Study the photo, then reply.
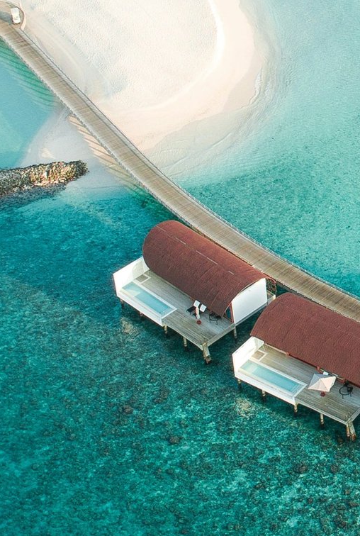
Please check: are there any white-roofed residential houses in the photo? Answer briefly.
No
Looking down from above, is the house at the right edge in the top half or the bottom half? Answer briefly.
bottom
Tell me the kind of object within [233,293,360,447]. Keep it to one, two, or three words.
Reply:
house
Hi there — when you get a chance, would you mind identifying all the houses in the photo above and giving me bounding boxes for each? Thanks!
[114,226,272,374]
[233,293,360,447]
